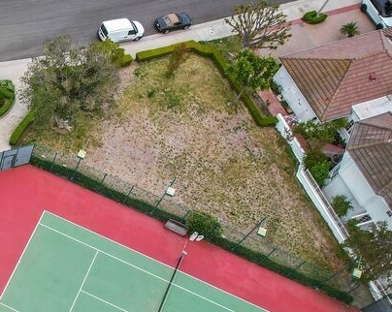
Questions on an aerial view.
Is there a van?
Yes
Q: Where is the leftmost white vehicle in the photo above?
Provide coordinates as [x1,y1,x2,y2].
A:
[97,13,149,44]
